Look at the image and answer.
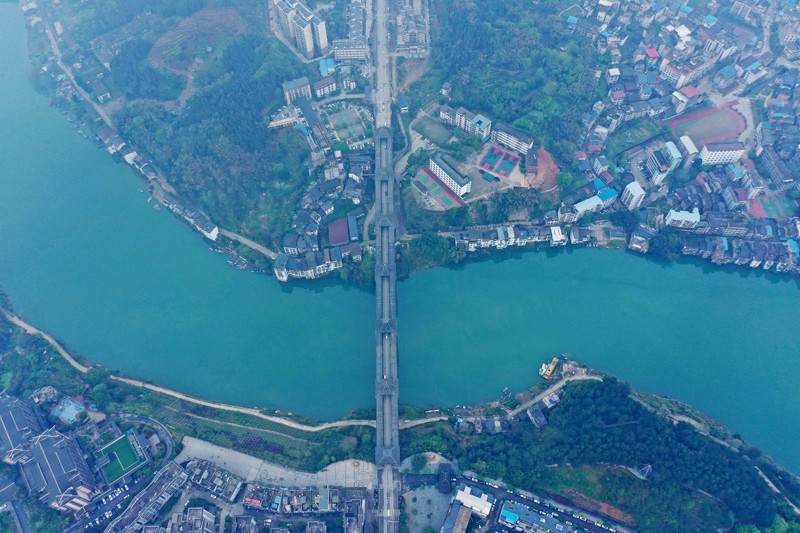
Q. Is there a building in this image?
Yes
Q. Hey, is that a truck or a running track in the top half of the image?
running track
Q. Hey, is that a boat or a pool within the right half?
boat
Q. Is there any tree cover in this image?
Yes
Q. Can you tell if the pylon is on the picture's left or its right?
right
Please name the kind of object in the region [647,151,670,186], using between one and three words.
building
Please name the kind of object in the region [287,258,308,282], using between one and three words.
house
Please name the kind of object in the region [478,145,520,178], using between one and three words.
sports court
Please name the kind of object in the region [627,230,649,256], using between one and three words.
house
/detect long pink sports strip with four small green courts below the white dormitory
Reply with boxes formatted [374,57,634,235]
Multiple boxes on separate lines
[410,166,459,208]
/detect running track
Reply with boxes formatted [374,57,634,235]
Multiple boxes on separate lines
[666,104,746,148]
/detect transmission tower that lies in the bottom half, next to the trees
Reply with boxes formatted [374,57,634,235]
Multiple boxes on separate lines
[630,469,652,489]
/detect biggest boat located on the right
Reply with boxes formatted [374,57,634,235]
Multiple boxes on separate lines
[538,354,562,379]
